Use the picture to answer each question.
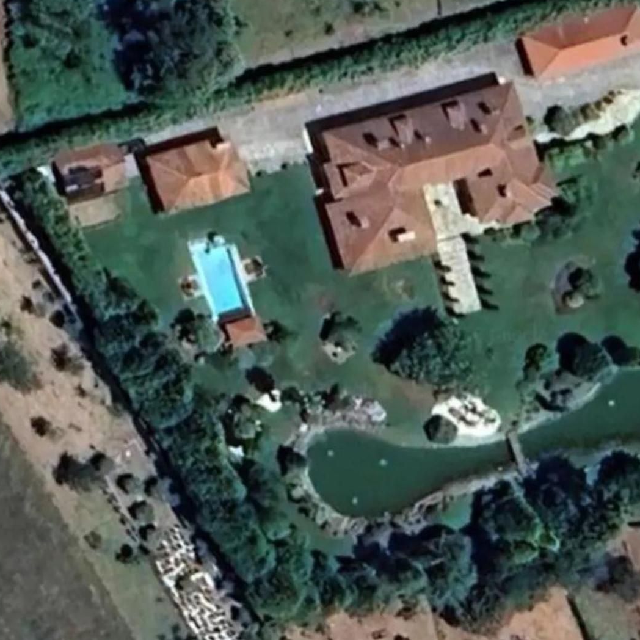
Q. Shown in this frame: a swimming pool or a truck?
swimming pool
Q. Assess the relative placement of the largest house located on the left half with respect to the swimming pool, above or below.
above it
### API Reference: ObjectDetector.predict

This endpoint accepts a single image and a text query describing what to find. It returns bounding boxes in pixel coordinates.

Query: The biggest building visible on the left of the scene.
[144,135,251,213]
